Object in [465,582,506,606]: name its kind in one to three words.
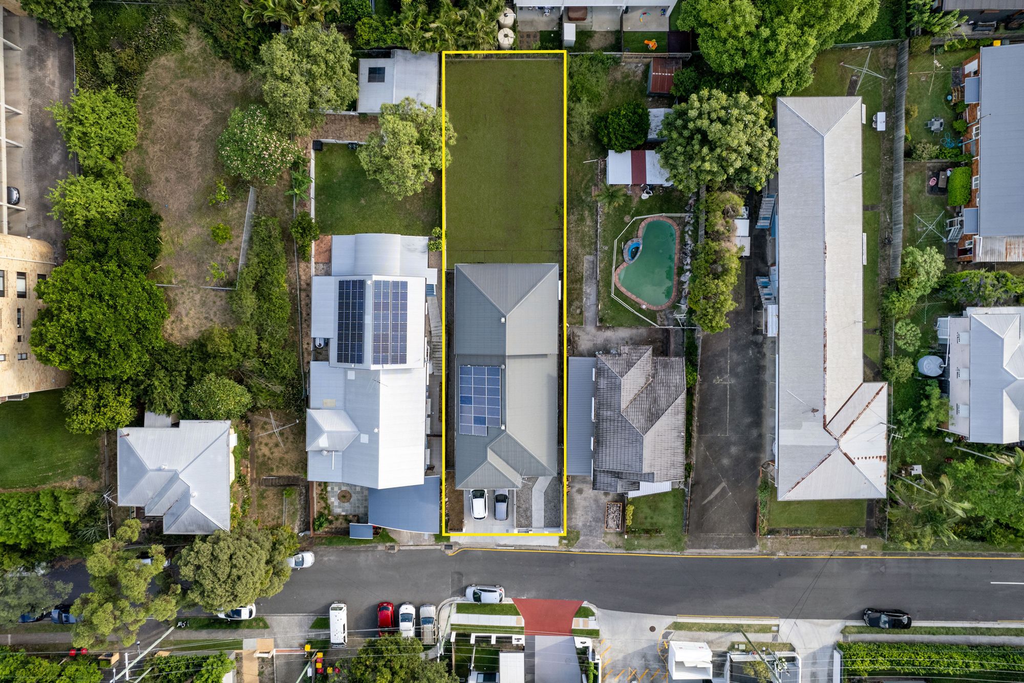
car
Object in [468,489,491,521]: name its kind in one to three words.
car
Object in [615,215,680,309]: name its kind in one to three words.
swimming pool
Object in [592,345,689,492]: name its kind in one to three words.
house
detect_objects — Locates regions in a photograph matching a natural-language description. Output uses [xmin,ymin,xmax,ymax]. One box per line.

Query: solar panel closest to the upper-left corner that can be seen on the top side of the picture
[368,66,384,82]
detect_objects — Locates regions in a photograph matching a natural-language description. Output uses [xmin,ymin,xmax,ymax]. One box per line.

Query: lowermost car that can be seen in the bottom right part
[861,605,912,631]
